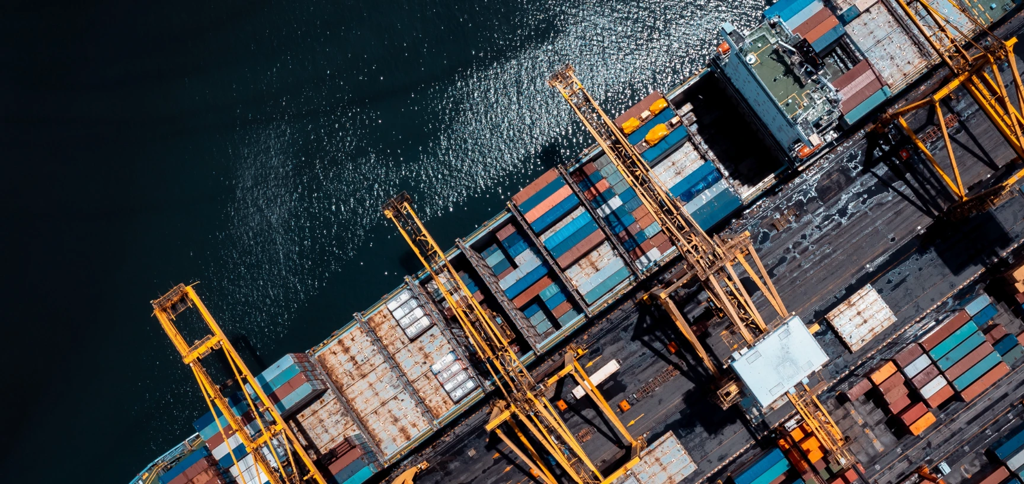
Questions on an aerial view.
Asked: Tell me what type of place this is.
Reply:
port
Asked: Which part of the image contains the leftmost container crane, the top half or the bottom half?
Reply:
bottom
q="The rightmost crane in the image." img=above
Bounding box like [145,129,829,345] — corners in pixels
[867,0,1024,225]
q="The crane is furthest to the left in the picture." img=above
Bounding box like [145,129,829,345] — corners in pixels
[147,278,333,484]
